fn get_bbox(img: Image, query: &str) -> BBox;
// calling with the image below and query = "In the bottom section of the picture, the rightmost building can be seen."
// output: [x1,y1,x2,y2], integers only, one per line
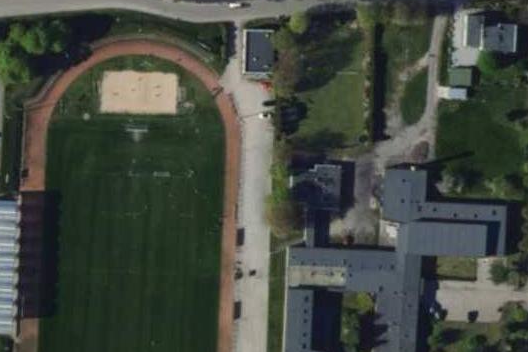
[282,165,507,352]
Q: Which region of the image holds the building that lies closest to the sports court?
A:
top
